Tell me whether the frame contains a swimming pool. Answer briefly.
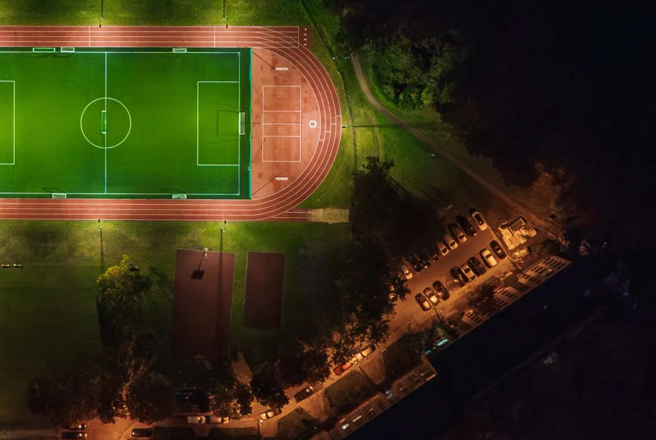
No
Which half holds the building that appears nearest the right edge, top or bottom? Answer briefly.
bottom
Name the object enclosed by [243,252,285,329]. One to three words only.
sports court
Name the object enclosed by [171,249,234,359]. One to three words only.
sports court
